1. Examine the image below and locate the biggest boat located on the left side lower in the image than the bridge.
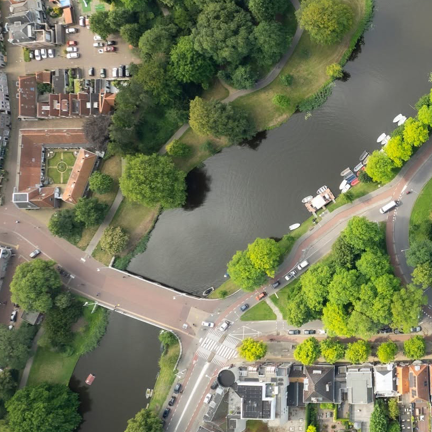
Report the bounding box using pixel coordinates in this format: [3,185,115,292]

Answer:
[84,371,97,386]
